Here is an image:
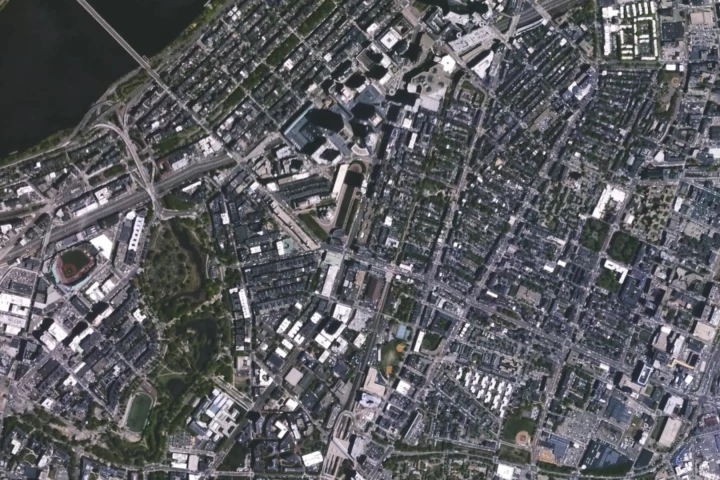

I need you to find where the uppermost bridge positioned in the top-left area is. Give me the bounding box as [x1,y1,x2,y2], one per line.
[76,0,159,81]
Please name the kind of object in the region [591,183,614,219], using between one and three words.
building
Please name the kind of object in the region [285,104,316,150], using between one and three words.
building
